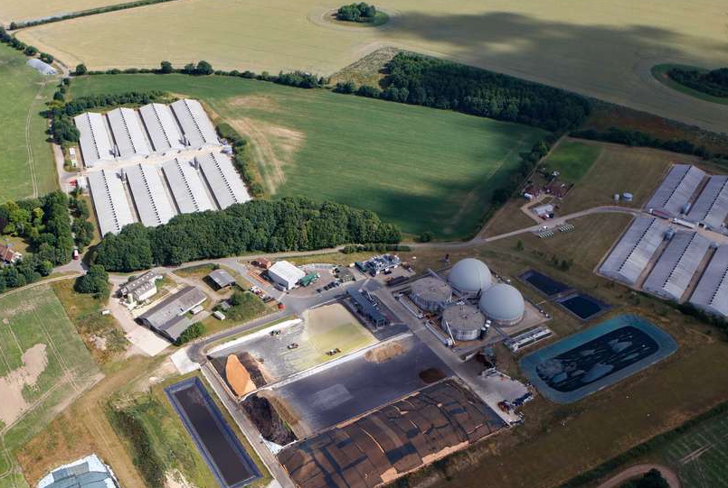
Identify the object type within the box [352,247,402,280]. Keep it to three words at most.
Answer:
building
